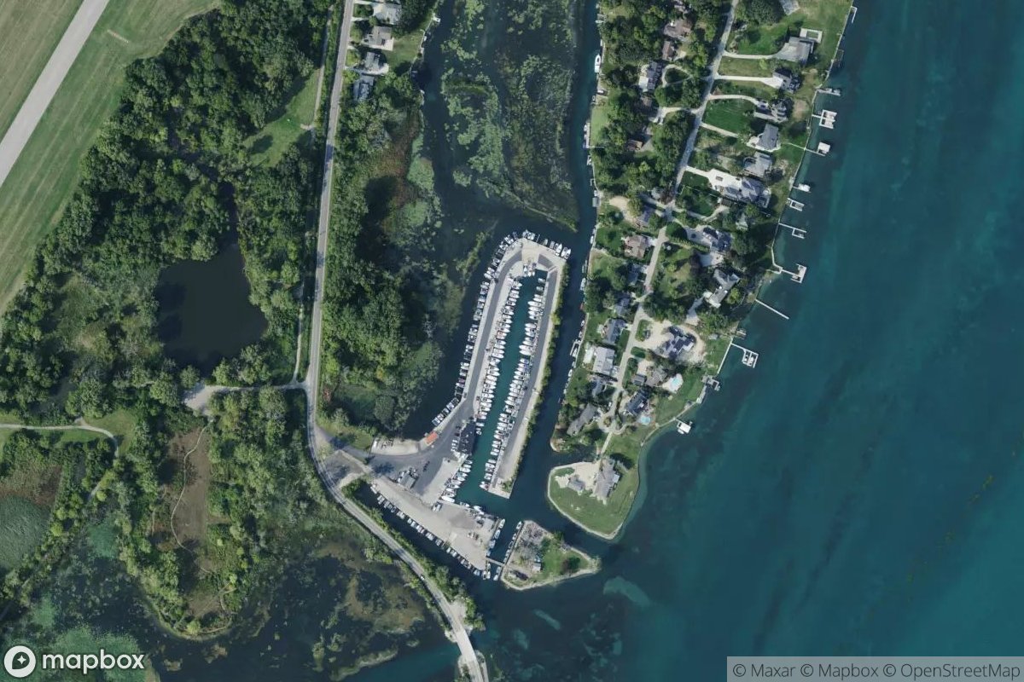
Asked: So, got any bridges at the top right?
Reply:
No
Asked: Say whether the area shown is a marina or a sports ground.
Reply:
marina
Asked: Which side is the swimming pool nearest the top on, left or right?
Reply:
right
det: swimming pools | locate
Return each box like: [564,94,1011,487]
[639,412,652,425]
[662,373,683,393]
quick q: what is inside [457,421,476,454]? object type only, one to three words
building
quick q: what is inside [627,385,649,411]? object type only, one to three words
house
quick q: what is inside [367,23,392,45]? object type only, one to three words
house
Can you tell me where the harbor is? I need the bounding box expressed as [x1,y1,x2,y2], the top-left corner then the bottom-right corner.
[317,238,570,571]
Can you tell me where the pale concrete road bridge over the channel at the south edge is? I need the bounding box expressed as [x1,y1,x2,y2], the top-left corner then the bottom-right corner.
[448,621,479,672]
